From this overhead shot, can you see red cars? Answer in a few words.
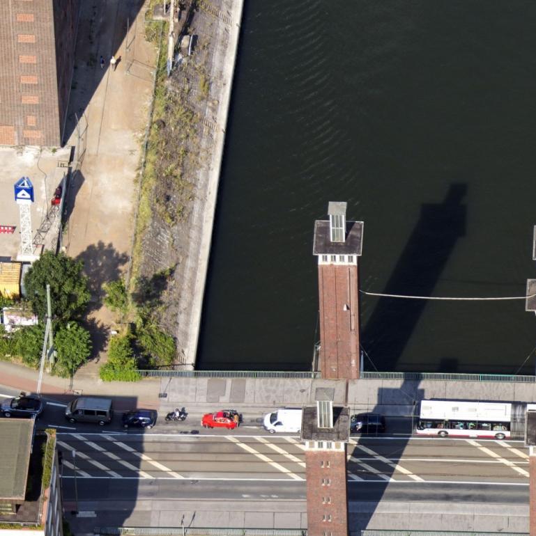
Yes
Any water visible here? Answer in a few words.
Yes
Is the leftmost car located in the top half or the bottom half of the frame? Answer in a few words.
bottom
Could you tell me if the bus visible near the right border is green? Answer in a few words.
No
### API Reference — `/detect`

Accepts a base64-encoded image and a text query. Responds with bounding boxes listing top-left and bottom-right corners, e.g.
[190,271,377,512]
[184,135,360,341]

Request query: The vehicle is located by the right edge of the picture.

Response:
[414,399,536,439]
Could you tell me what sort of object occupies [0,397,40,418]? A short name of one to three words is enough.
car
